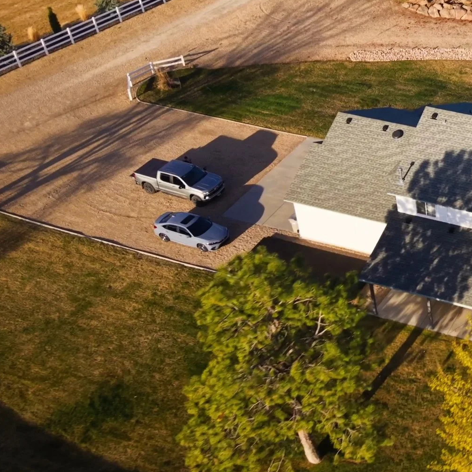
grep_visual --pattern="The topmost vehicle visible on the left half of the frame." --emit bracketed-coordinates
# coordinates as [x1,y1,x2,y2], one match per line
[132,158,231,205]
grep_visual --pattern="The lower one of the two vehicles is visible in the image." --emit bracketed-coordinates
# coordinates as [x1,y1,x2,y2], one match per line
[149,210,231,252]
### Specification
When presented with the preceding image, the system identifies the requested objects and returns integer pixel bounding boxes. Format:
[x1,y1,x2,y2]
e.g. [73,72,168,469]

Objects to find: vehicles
[149,210,231,252]
[132,158,231,205]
